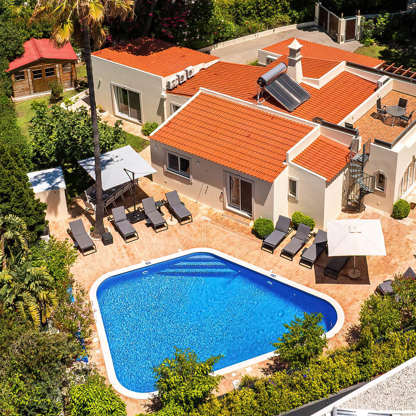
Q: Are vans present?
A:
No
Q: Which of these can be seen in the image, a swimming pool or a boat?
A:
swimming pool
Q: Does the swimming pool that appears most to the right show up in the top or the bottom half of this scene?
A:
bottom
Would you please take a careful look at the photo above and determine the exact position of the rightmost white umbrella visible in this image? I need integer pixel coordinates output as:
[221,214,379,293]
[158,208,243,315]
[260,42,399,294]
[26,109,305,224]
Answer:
[327,220,386,278]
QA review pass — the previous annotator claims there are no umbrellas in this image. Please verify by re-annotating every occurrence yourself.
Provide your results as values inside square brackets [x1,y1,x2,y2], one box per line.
[327,220,386,278]
[78,146,156,223]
